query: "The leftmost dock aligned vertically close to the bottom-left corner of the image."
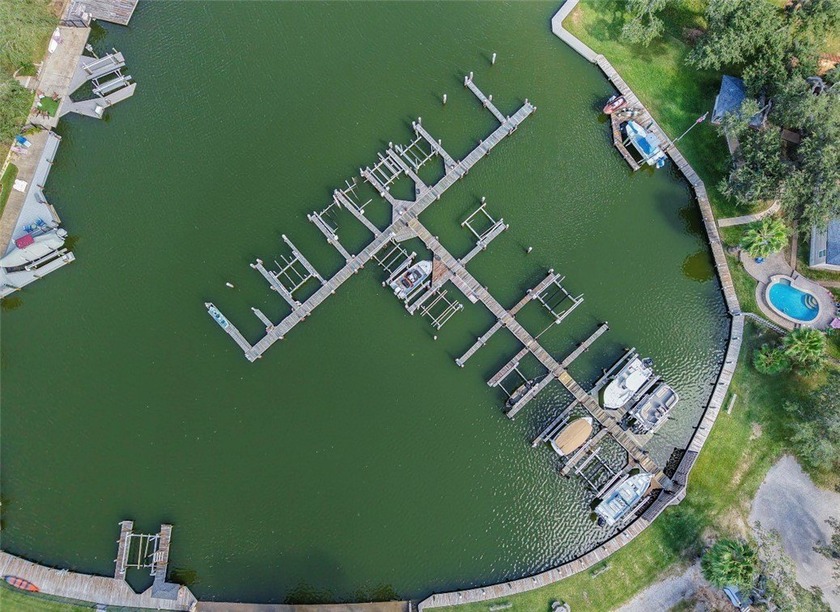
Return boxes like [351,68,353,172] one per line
[113,517,140,580]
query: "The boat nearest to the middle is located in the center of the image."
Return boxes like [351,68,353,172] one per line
[391,263,432,299]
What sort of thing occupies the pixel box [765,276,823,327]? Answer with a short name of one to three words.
swimming pool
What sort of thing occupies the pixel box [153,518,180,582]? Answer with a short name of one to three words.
pier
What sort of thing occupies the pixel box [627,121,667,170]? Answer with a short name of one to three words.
boat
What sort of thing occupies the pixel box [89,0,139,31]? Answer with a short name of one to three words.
pier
